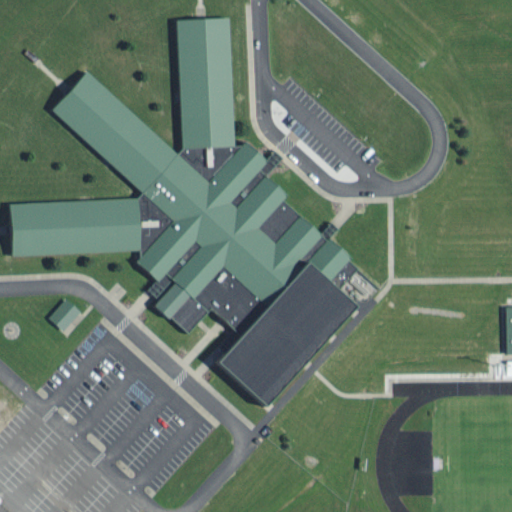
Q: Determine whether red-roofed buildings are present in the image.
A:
No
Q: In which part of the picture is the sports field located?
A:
bottom right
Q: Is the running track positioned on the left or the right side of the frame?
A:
right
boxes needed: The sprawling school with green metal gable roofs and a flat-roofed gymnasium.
[10,18,358,406]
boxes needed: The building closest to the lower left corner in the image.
[49,300,81,330]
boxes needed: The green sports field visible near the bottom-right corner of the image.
[433,395,512,512]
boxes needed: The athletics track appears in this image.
[376,381,512,512]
